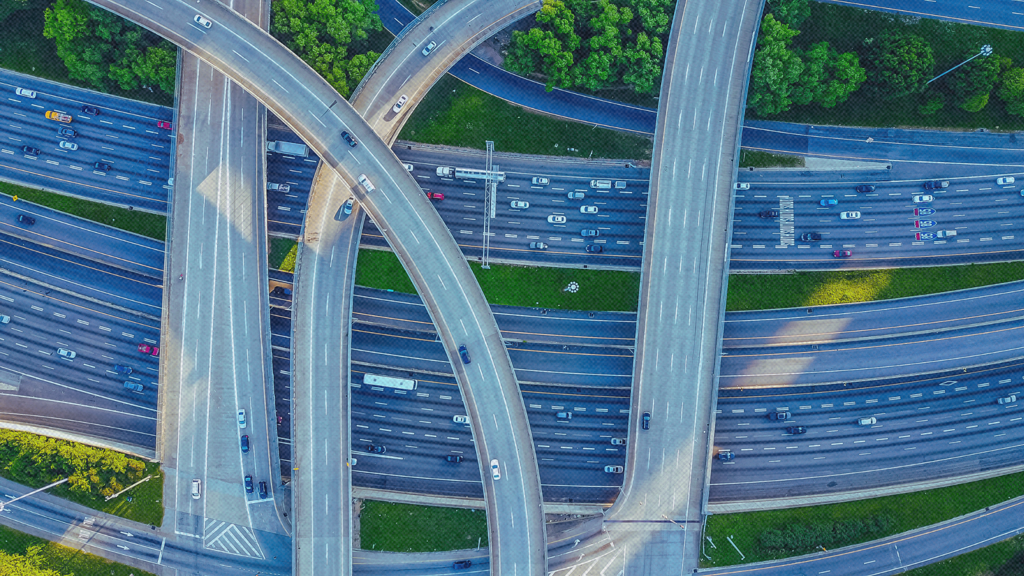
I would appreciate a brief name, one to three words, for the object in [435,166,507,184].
vehicle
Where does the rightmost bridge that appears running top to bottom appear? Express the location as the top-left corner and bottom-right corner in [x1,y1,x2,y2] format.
[603,0,765,522]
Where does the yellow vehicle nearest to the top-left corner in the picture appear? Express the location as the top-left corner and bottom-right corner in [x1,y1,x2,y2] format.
[44,109,73,124]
